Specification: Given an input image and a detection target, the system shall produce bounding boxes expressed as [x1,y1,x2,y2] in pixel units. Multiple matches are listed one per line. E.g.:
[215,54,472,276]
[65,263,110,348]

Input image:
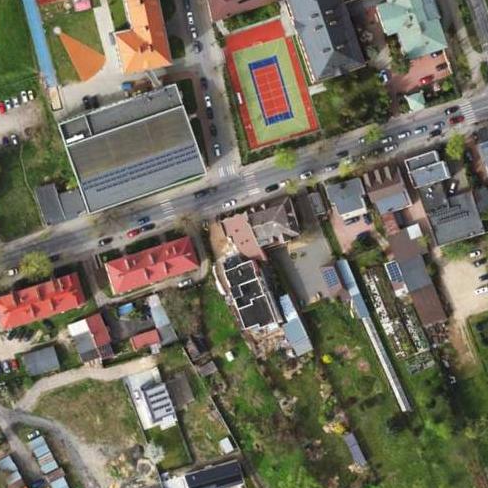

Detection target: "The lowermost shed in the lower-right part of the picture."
[343,433,367,467]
